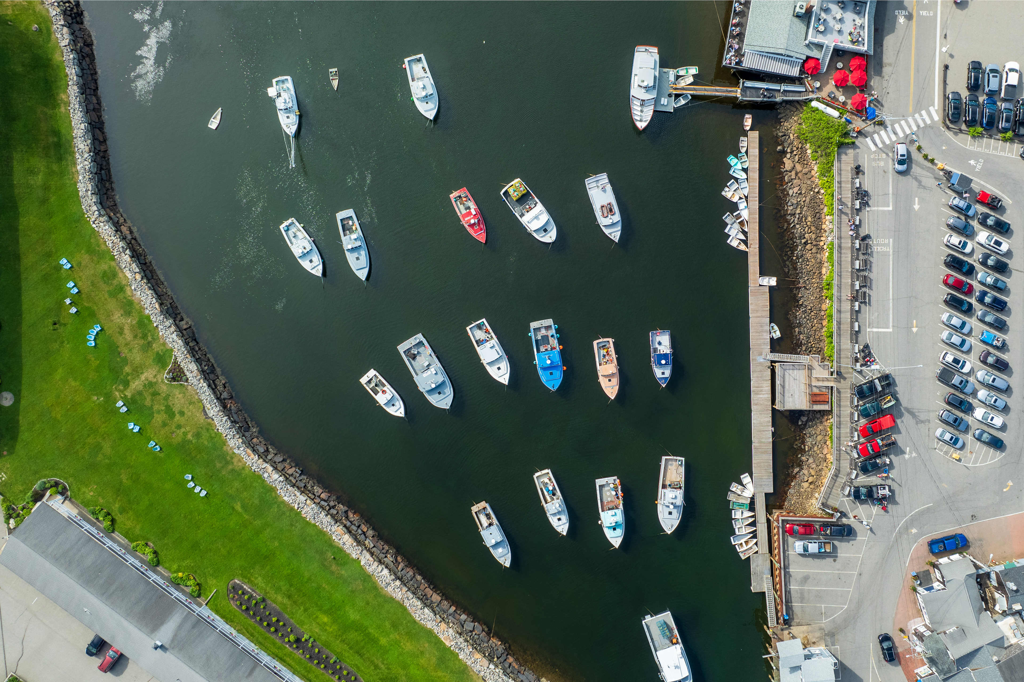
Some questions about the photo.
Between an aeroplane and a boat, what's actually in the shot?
boat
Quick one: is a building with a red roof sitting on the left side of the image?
No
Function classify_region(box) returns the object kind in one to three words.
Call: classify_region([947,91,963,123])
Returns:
car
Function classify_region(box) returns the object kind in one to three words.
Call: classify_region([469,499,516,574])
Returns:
boat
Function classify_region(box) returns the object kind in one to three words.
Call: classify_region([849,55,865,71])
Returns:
umbrella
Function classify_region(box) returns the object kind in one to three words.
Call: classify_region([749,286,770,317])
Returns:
pier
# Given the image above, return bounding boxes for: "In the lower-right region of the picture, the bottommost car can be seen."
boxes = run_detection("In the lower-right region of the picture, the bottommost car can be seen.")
[878,632,895,664]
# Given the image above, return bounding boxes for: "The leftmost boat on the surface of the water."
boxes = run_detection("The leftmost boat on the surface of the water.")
[208,107,222,129]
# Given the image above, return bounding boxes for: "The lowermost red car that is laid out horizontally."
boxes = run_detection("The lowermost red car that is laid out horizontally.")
[785,523,815,537]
